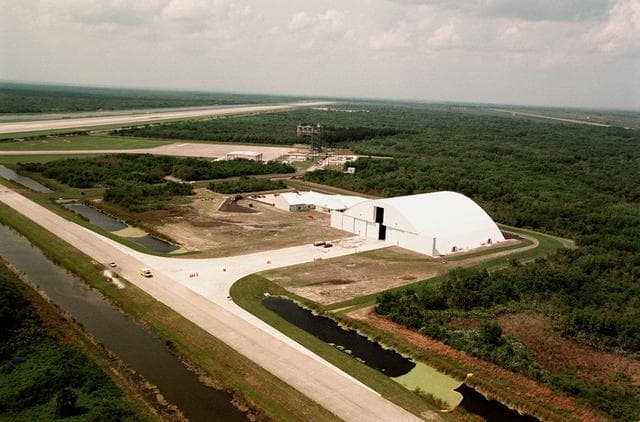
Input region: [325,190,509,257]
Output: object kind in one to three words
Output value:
hangar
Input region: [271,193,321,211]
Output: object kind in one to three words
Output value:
building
